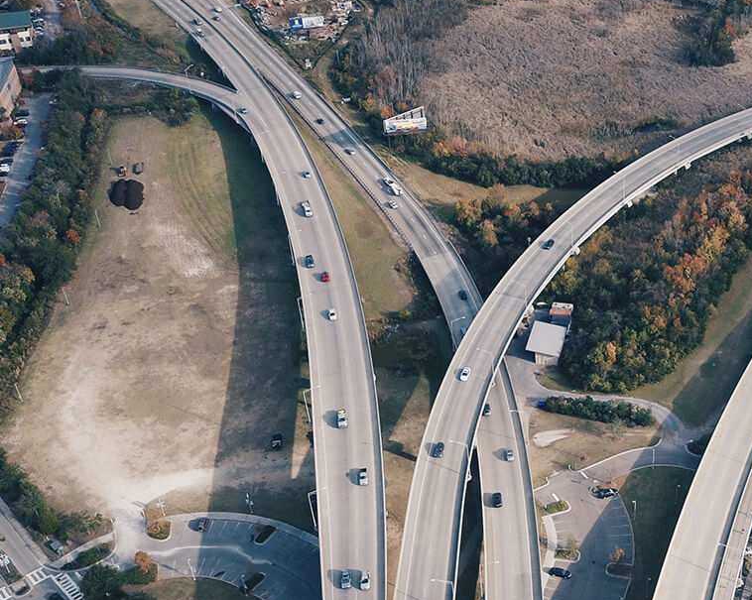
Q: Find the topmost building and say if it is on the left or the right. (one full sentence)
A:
It is on the left.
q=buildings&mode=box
[527,322,566,369]
[0,64,22,133]
[0,7,40,49]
